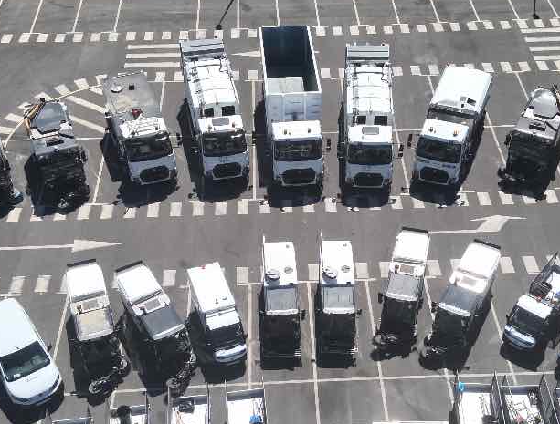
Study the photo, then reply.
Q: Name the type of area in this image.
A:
parking lot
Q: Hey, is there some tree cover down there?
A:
No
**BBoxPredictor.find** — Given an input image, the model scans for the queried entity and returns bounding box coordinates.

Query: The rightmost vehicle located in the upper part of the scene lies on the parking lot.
[495,85,560,190]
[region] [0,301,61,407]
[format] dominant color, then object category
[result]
white van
